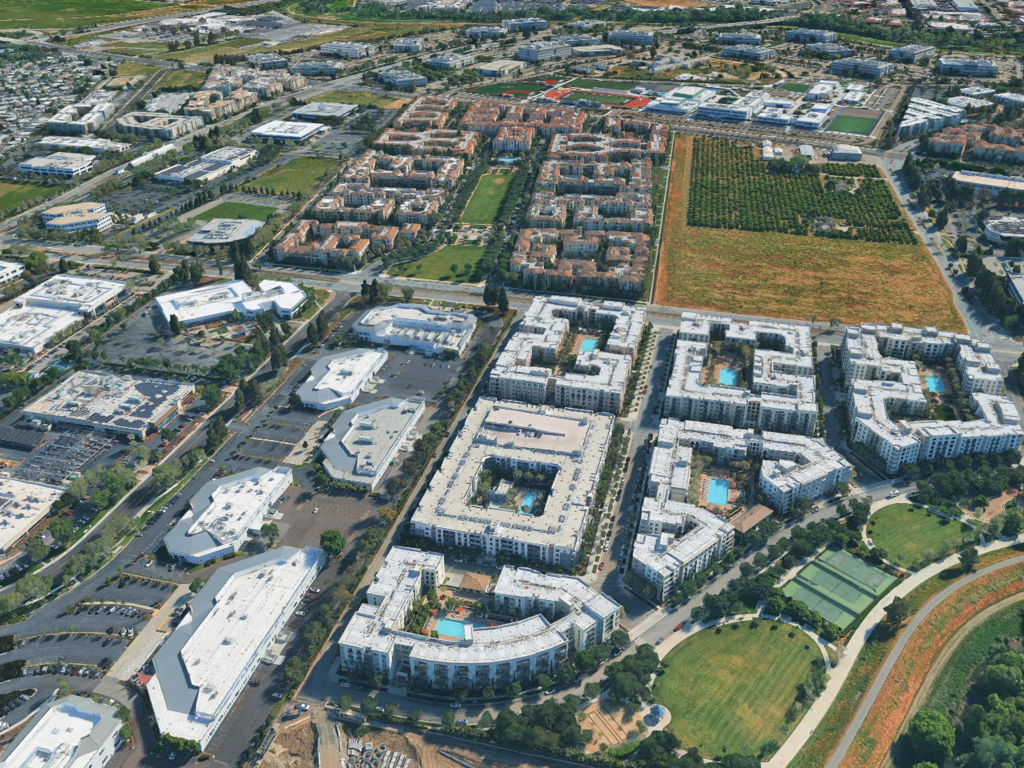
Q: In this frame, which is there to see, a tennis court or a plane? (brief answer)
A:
tennis court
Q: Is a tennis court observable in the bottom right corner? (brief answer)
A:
Yes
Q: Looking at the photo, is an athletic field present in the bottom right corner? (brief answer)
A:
No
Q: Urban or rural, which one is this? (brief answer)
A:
urban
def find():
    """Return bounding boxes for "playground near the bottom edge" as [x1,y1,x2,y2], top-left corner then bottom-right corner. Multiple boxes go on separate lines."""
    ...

[576,701,644,753]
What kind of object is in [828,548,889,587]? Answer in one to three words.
tennis court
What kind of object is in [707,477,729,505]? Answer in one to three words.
swimming pool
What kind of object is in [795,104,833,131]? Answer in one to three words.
building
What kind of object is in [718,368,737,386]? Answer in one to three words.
swimming pool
